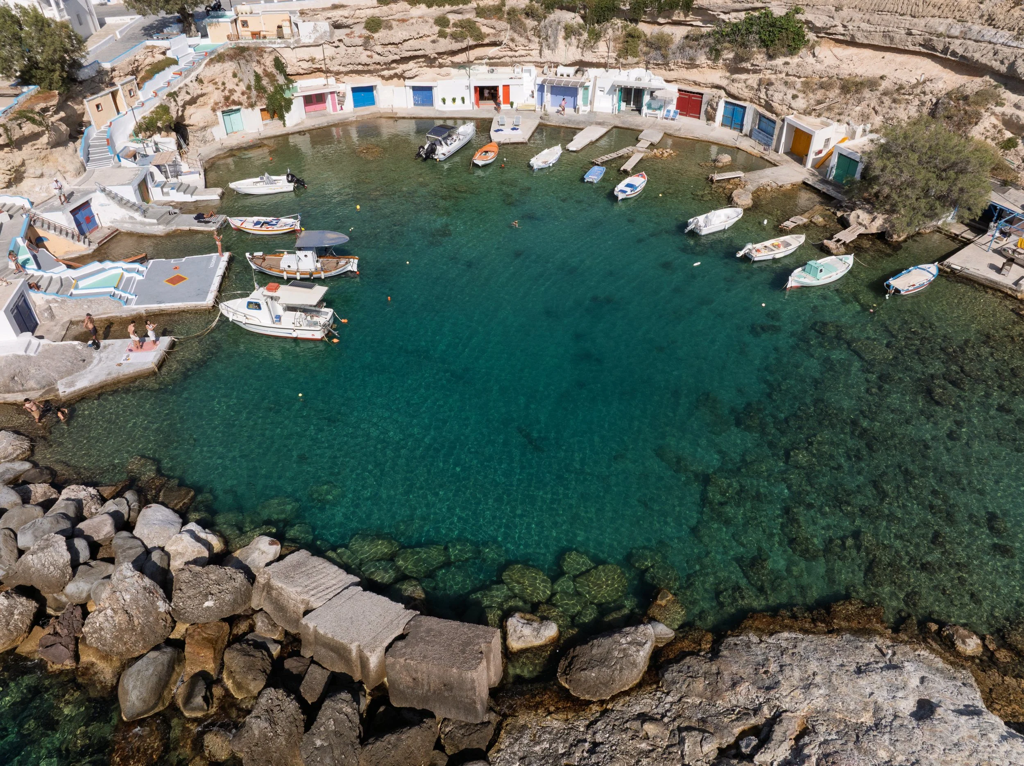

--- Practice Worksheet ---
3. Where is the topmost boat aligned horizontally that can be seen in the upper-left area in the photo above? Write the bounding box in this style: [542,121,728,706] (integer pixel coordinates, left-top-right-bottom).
[228,172,313,197]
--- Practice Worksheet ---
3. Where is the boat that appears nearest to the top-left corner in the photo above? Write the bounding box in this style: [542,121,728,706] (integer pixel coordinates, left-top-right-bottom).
[72,251,146,265]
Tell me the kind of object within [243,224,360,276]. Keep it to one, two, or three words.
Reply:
boat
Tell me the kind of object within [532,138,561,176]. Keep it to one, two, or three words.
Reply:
boat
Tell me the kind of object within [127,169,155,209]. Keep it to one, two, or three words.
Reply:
building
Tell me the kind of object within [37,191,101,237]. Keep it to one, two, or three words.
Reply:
house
